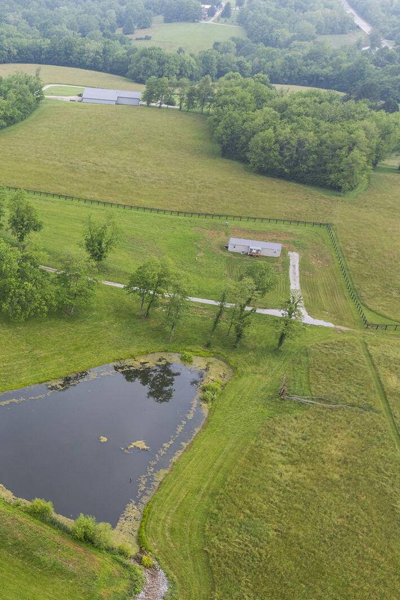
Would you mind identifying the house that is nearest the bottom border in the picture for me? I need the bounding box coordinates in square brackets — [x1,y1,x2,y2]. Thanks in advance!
[229,235,282,257]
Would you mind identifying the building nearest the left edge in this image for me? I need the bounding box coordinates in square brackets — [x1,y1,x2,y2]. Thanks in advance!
[83,91,141,105]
